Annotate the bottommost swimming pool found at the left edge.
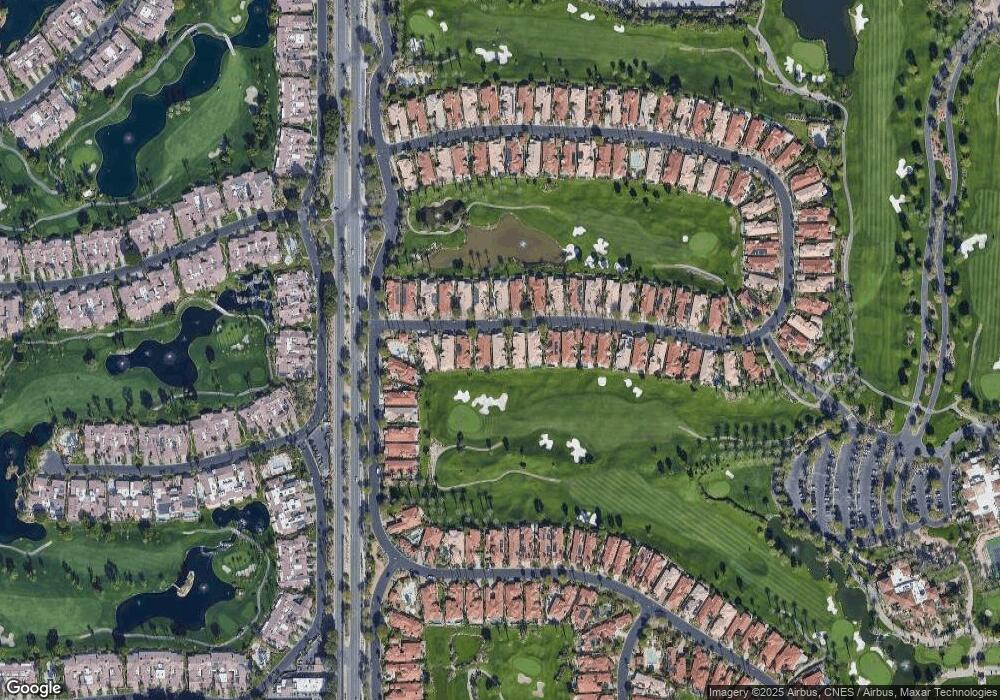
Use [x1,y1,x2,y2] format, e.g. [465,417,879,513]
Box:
[43,661,57,681]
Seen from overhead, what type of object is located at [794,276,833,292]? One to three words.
house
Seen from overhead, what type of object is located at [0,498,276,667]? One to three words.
golf course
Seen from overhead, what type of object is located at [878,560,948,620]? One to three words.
building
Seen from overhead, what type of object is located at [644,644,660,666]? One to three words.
swimming pool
